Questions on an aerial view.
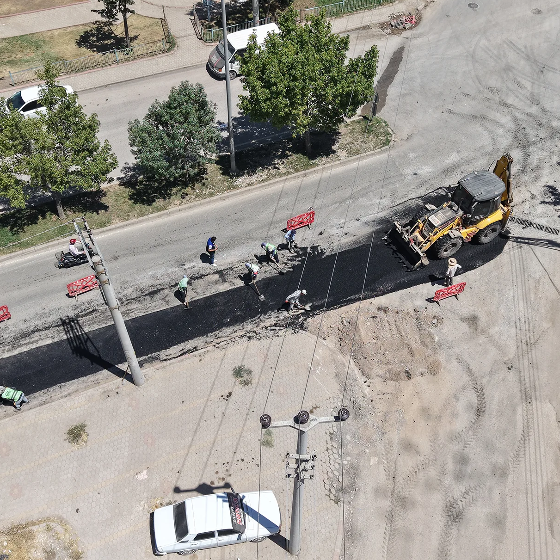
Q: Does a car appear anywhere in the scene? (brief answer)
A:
Yes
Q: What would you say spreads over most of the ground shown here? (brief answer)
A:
paved ground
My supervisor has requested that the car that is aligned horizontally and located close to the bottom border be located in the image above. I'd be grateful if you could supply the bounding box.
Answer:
[151,479,290,555]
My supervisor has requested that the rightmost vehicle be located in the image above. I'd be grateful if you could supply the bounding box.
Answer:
[384,156,524,270]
